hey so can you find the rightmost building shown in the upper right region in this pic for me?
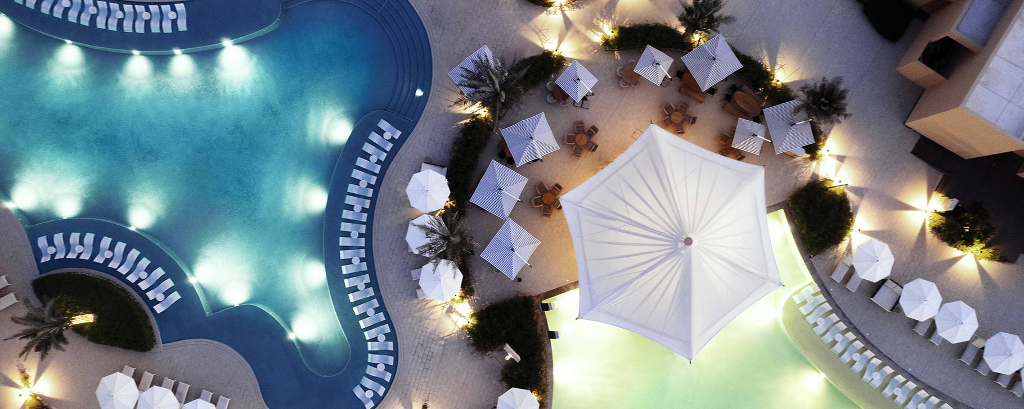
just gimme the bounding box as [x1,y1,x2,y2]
[897,0,1024,160]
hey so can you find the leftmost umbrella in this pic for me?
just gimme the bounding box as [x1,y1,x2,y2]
[94,371,141,409]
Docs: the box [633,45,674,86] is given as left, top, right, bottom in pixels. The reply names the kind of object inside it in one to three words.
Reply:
umbrella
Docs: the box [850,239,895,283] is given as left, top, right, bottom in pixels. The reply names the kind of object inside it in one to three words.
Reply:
umbrella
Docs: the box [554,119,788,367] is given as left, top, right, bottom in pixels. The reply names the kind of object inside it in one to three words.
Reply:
tent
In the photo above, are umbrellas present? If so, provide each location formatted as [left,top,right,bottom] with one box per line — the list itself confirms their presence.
[730,118,773,155]
[136,382,184,409]
[932,300,978,345]
[633,45,674,86]
[483,218,541,280]
[681,33,743,92]
[94,371,141,409]
[404,213,449,258]
[763,98,814,155]
[405,169,450,213]
[979,330,1024,376]
[183,398,221,409]
[470,160,528,220]
[556,60,598,105]
[494,386,540,409]
[897,276,943,322]
[418,257,464,303]
[501,111,560,168]
[850,239,895,283]
[449,44,510,108]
